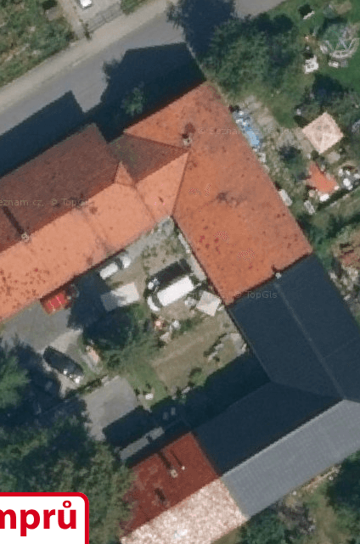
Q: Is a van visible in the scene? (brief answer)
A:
Yes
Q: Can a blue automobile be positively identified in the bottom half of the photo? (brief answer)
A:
No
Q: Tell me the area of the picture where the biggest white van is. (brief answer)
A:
center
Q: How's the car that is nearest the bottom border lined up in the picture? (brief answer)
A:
on a diagonal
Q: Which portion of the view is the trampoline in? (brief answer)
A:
top right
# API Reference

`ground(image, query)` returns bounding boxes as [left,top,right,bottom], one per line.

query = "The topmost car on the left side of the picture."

[97,251,135,282]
